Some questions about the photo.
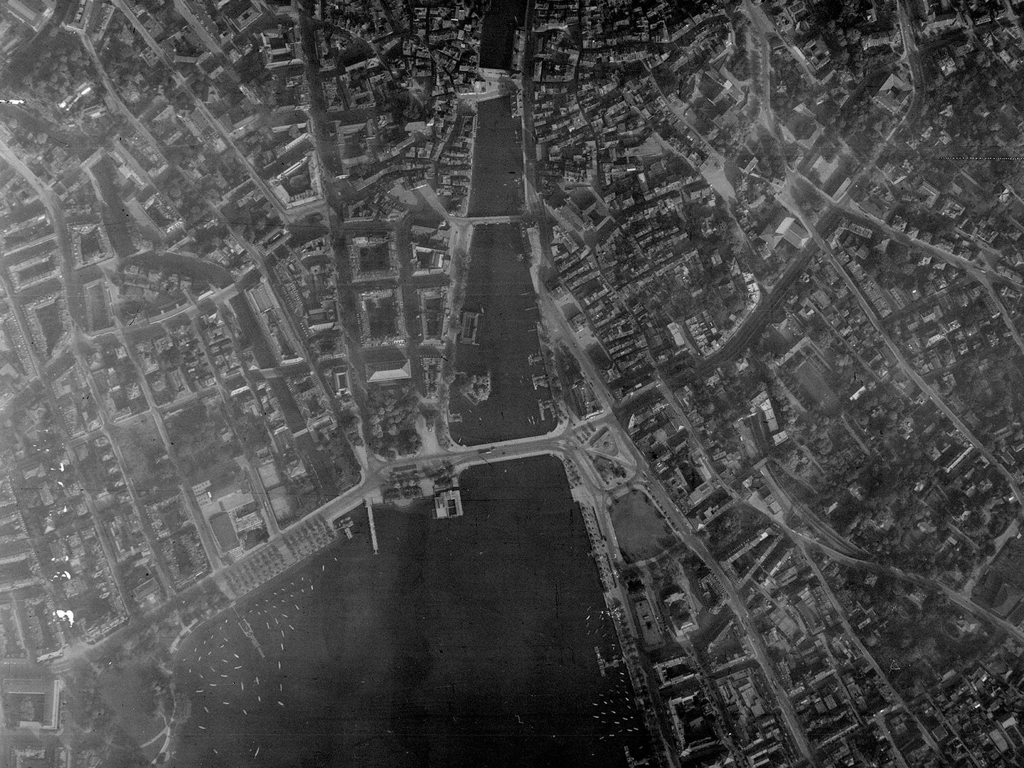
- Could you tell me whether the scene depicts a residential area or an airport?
residential area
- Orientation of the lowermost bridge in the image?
horizontally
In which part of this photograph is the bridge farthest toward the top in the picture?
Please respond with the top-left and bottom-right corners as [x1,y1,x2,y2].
[476,68,525,102]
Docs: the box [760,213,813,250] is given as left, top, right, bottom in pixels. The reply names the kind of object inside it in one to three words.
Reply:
building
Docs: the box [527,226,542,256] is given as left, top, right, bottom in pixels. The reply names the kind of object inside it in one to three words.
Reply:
house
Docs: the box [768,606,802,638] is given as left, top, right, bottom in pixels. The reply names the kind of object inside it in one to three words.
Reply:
building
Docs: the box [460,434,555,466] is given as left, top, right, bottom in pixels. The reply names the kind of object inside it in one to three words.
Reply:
bridge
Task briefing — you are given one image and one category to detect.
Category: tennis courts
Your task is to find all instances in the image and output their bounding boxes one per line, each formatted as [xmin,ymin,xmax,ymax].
[259,464,279,487]
[268,487,290,513]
